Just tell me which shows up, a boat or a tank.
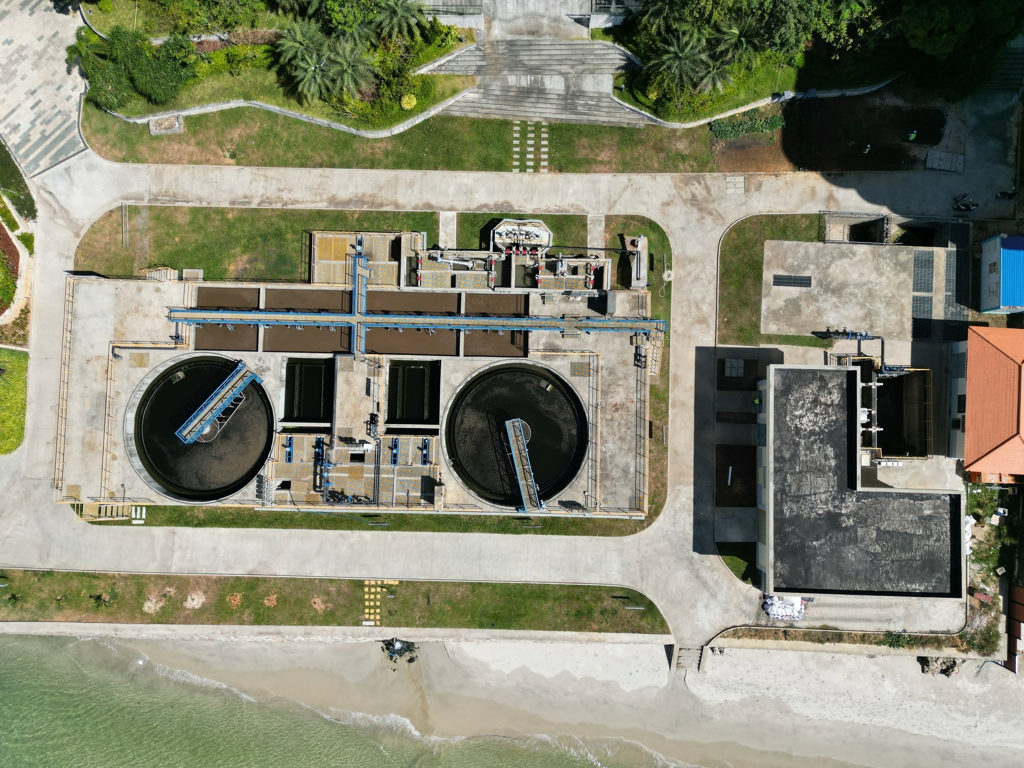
tank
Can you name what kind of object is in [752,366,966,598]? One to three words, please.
building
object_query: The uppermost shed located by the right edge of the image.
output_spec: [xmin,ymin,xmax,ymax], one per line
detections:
[980,234,1024,313]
